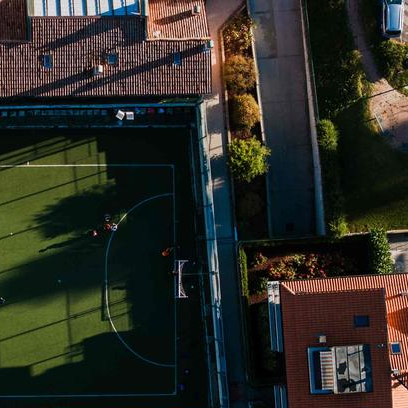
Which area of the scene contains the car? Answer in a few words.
top right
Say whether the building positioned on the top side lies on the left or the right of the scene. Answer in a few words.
left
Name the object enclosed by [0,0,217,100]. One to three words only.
building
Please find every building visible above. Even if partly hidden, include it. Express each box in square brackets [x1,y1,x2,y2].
[0,0,217,100]
[266,274,408,408]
